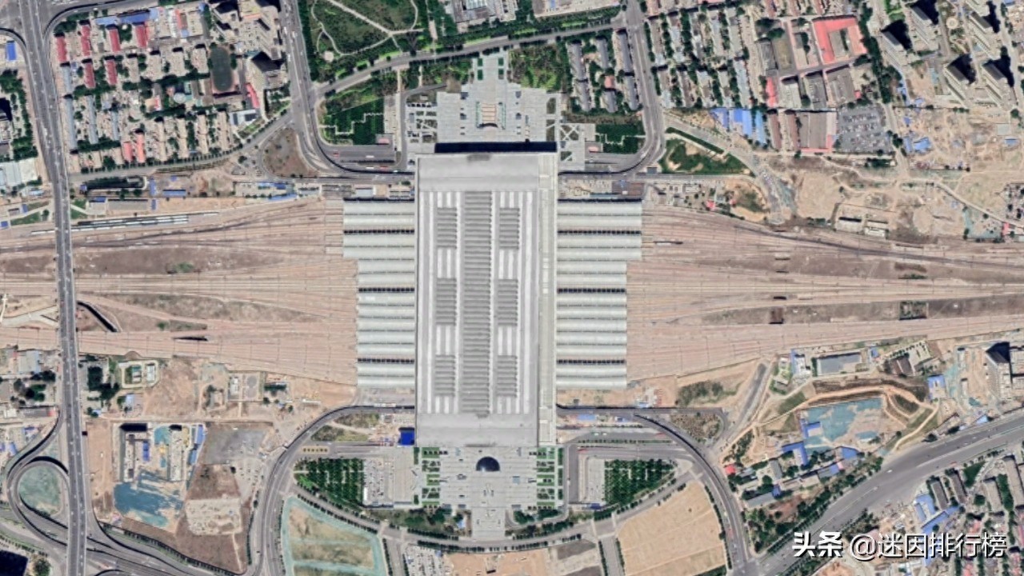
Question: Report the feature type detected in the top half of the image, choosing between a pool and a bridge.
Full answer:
You can see a bridge in the top half of the image.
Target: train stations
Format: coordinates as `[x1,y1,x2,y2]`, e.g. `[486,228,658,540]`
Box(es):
[412,148,557,446]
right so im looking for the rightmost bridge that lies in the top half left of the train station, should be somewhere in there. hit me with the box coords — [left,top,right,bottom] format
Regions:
[308,119,413,179]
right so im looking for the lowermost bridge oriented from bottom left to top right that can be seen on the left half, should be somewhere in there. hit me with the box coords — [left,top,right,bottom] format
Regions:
[257,404,413,576]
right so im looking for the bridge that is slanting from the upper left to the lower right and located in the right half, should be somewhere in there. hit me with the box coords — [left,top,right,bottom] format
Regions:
[557,405,755,576]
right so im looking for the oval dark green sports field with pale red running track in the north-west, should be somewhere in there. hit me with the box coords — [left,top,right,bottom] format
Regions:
[210,44,237,97]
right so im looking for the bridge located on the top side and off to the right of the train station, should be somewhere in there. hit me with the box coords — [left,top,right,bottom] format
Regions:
[557,120,659,179]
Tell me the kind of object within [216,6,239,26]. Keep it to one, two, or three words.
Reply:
building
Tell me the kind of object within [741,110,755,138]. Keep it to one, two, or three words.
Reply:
shed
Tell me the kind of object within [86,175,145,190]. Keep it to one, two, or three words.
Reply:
shed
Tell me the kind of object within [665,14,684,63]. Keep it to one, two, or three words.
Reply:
building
